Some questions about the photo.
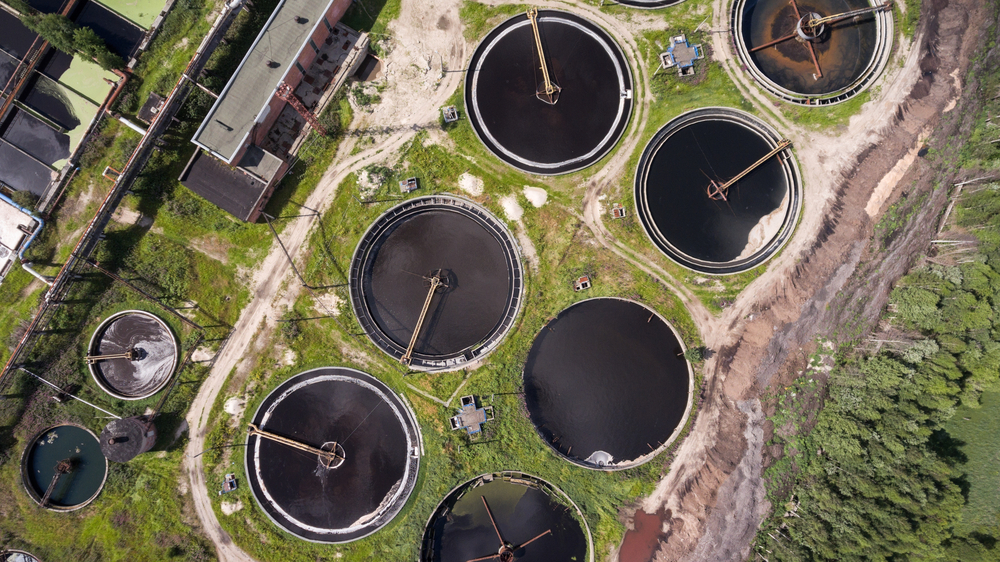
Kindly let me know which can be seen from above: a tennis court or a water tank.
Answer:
water tank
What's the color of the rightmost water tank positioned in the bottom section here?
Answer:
black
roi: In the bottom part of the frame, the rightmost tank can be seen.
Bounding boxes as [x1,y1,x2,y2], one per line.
[522,297,694,470]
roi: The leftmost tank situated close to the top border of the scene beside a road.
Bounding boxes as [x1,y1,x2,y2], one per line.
[465,8,633,177]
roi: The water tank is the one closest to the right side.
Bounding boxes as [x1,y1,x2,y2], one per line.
[728,0,894,108]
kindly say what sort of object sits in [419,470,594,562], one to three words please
water tank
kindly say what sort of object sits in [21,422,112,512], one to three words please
water tank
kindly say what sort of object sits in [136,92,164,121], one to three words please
shed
